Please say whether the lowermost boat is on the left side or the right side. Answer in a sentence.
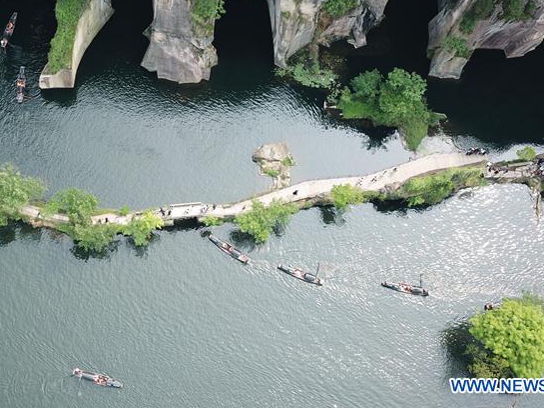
The lowermost boat is on the left side of the image.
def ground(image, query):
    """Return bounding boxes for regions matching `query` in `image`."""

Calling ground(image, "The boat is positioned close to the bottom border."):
[71,368,123,392]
